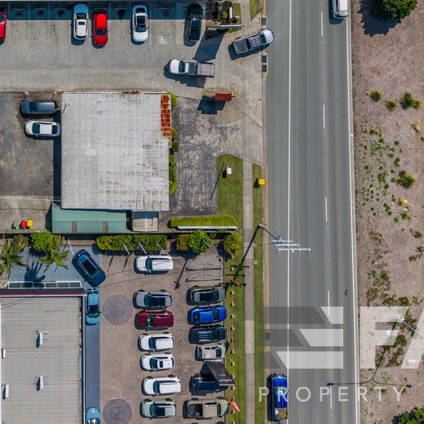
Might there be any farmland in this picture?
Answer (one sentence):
No, the scene doesn't show any farmland.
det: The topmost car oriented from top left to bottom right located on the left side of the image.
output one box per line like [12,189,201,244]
[72,248,105,288]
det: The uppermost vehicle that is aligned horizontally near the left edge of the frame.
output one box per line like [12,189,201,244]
[20,98,58,116]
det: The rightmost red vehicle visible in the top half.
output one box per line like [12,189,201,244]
[91,9,109,48]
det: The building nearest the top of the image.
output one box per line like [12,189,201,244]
[62,91,171,209]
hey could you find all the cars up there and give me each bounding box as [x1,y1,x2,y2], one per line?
[133,290,173,310]
[188,305,226,325]
[0,6,9,43]
[24,120,61,138]
[85,287,103,325]
[135,310,175,332]
[140,352,175,372]
[72,248,105,288]
[230,27,275,56]
[137,333,176,353]
[91,9,109,48]
[329,0,347,18]
[184,397,228,419]
[135,255,174,274]
[141,375,183,396]
[169,58,215,79]
[132,4,150,44]
[189,325,227,345]
[141,398,177,419]
[72,2,91,41]
[20,98,58,116]
[196,342,227,362]
[189,373,228,394]
[186,286,226,307]
[85,410,101,424]
[185,3,205,41]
